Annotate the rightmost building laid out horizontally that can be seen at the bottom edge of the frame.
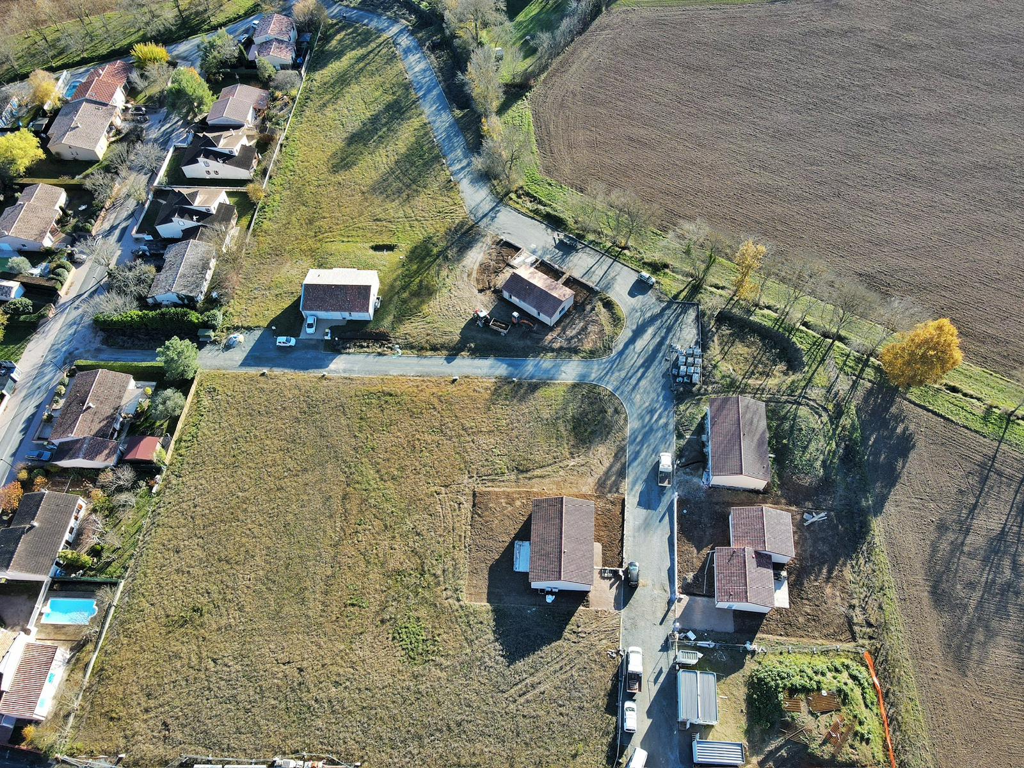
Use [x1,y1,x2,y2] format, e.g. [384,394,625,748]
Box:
[691,740,744,763]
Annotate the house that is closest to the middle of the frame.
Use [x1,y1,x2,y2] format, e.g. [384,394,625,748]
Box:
[502,264,574,332]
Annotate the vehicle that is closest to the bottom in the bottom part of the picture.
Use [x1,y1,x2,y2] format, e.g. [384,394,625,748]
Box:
[628,745,649,768]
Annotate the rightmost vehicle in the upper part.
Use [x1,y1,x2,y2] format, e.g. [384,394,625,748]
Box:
[636,270,658,287]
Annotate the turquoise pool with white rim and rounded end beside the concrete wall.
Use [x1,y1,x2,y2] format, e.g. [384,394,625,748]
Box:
[40,599,99,624]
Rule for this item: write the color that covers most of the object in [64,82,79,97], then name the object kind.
blue swimming pool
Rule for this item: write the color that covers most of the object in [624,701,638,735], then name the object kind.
white car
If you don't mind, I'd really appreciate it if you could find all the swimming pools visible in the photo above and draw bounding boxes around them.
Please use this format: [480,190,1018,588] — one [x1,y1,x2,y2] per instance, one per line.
[64,82,79,97]
[40,599,99,624]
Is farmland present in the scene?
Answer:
Yes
